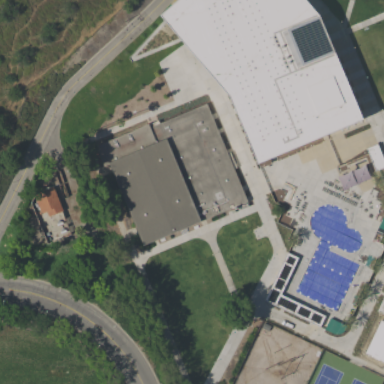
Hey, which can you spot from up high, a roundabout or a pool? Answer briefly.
pool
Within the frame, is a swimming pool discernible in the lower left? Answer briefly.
No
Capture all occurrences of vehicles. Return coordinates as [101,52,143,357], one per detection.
[46,231,52,240]
[284,321,295,328]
